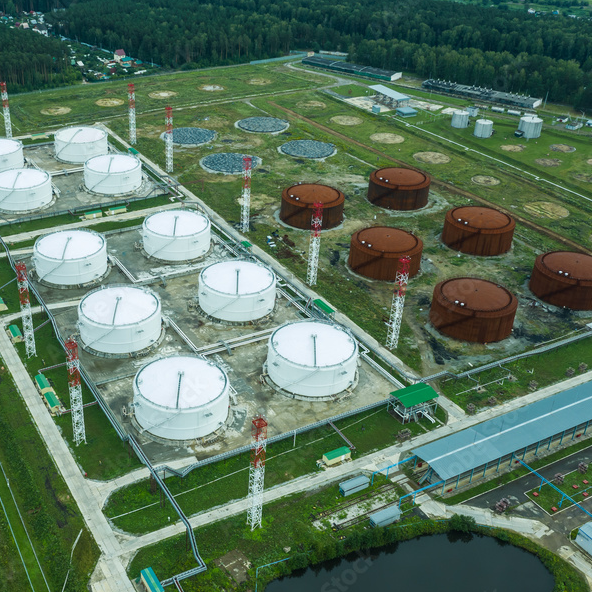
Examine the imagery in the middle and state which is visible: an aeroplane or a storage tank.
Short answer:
storage tank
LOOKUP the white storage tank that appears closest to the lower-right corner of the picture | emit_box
[258,317,363,401]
